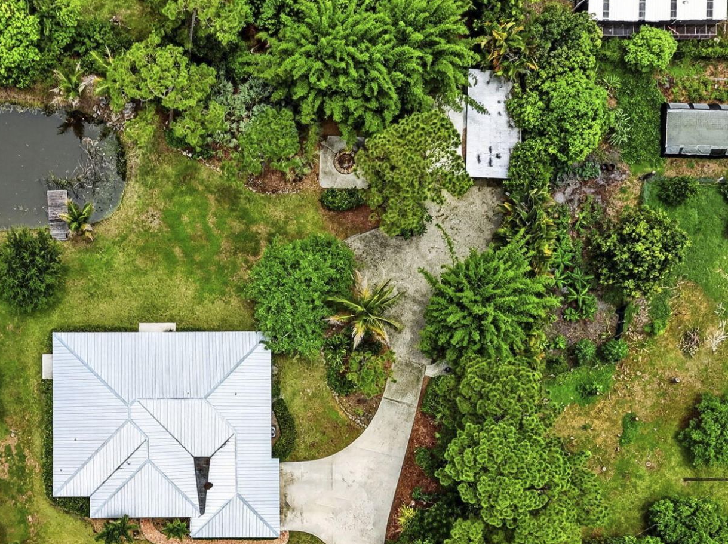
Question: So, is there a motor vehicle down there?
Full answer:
No, the picture doesn't show any motor vehicle.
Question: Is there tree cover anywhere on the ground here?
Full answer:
Yes, there is tree cover in the image.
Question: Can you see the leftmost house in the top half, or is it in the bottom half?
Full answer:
It is in the bottom half that the leftmost house appears.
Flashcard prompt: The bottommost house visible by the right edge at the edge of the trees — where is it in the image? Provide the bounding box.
[644,102,728,163]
